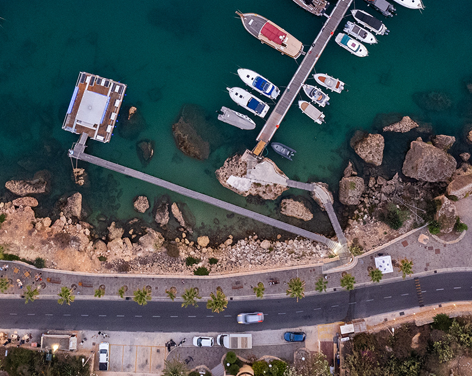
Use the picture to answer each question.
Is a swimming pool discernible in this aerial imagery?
No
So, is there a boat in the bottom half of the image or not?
No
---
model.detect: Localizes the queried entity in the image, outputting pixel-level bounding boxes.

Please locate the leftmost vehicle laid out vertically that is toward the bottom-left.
[97,342,110,370]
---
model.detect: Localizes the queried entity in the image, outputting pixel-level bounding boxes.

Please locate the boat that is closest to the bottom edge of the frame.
[270,143,297,159]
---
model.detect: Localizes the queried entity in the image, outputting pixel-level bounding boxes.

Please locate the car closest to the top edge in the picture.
[236,312,263,324]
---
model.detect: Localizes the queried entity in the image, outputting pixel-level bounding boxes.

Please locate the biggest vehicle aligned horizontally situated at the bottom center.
[217,334,252,350]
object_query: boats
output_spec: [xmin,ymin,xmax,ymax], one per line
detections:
[233,66,282,102]
[296,0,329,16]
[299,102,325,124]
[338,17,380,44]
[302,85,331,107]
[391,0,430,14]
[218,108,255,128]
[333,32,370,56]
[235,11,308,61]
[362,0,396,18]
[227,87,269,119]
[352,10,391,38]
[270,143,297,159]
[313,75,347,93]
